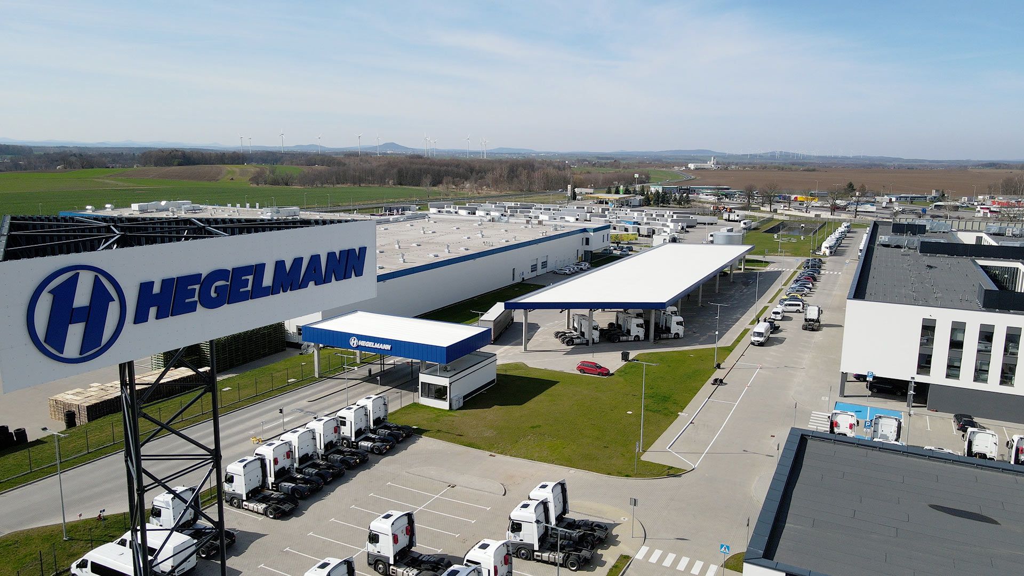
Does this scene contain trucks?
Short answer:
Yes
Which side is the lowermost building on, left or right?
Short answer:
right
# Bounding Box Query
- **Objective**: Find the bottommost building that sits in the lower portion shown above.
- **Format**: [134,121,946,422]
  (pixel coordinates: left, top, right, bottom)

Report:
[743,428,1024,576]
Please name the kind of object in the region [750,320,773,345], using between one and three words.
vehicle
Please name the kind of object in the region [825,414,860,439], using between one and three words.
truck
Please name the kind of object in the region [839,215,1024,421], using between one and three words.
building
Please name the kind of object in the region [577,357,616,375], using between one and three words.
car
